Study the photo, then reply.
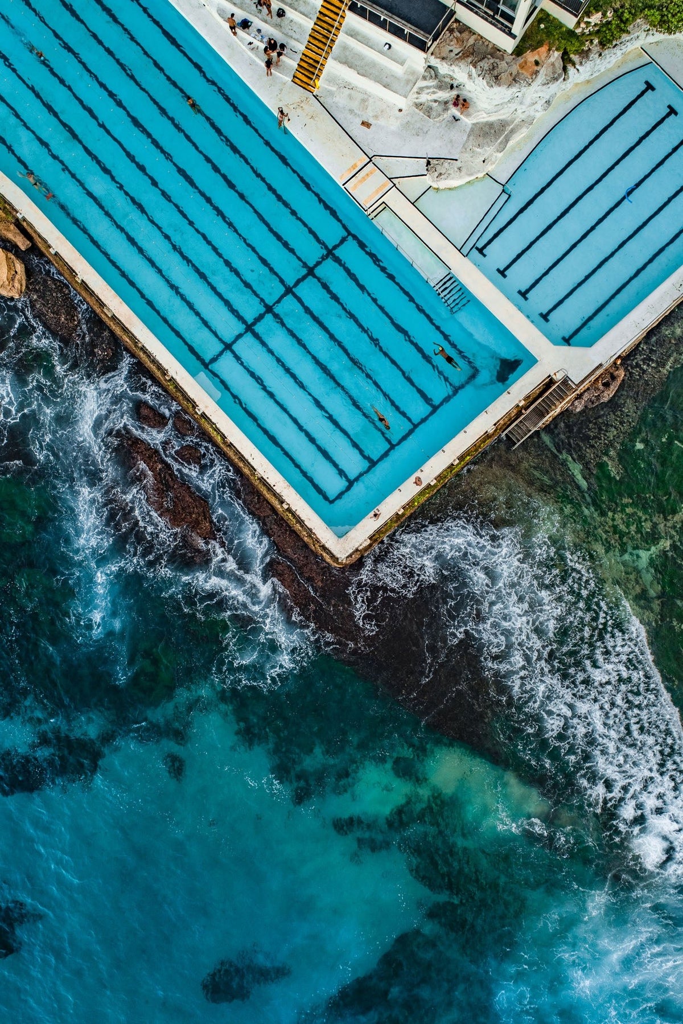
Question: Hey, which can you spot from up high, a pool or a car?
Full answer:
Of the two, only a pool appears.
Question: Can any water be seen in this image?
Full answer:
Yes, the picture does contain water.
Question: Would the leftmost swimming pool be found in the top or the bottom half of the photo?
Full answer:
The top half of the photo is where the leftmost swimming pool is.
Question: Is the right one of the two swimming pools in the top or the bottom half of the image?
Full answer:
You can find the right one of the two swimming pools in the top half.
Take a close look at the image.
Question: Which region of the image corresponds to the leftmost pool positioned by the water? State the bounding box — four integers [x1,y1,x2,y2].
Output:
[0,0,538,538]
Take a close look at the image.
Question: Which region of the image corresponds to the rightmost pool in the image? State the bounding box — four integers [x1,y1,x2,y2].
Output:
[415,64,683,347]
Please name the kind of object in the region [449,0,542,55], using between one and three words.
building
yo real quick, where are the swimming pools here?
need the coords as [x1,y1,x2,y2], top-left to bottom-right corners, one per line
[415,64,683,347]
[0,0,538,538]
